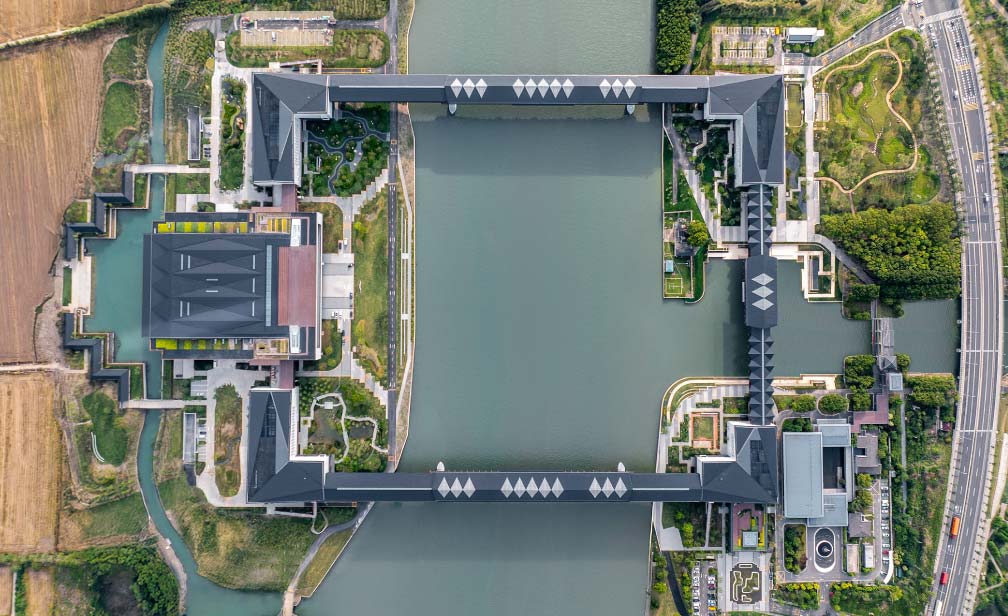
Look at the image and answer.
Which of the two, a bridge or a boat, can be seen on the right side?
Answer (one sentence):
The one visible on the right side is a bridge.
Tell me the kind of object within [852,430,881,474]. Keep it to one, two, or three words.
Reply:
house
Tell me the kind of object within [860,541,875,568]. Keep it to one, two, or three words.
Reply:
shed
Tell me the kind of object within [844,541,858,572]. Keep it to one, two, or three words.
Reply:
shed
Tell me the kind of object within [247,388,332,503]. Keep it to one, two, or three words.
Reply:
building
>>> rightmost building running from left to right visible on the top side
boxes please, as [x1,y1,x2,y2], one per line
[785,28,824,45]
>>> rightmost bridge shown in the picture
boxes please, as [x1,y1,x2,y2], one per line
[953,300,1005,377]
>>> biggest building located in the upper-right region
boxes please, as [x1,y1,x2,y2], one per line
[699,75,785,189]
